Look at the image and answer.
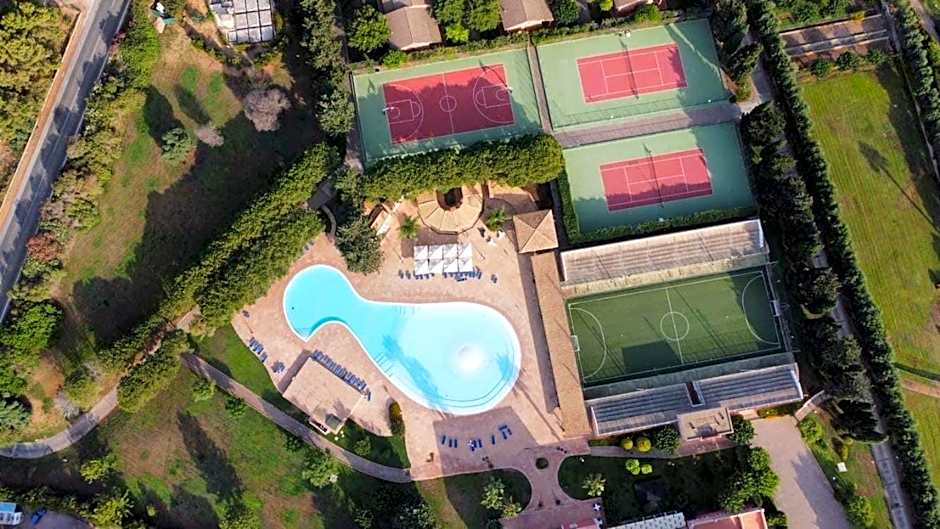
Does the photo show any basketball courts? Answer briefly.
Yes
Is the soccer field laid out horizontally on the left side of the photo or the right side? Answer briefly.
right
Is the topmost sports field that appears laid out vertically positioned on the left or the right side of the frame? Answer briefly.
right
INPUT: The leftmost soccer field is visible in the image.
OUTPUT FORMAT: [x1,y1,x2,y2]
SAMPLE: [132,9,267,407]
[566,264,791,386]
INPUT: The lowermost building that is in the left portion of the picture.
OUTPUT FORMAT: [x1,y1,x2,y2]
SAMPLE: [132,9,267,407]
[284,359,364,433]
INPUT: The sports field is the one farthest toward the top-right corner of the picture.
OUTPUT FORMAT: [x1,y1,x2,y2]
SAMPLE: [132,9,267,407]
[798,64,940,382]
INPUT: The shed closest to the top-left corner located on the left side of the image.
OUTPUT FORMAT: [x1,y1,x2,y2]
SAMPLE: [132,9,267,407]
[152,2,176,31]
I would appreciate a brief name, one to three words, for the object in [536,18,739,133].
tennis court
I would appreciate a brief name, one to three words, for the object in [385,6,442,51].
house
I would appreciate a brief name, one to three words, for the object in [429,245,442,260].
umbrella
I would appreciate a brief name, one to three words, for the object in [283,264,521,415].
swimming pool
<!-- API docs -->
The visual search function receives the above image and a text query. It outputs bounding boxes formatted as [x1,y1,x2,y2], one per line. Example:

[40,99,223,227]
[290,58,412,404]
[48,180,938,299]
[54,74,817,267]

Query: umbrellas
[442,245,457,260]
[414,260,428,274]
[414,246,428,260]
[458,259,472,274]
[442,259,457,274]
[429,260,442,274]
[429,245,442,260]
[458,245,472,259]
